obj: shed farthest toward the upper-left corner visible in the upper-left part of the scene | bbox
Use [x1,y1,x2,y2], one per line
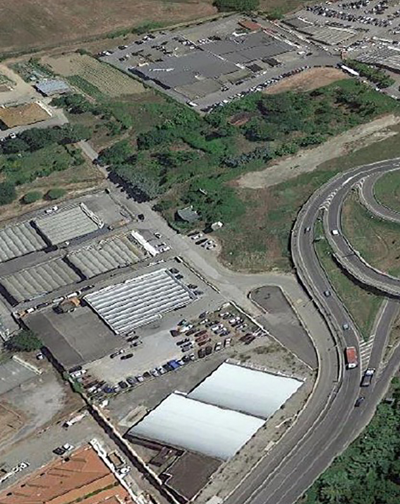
[34,78,70,97]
